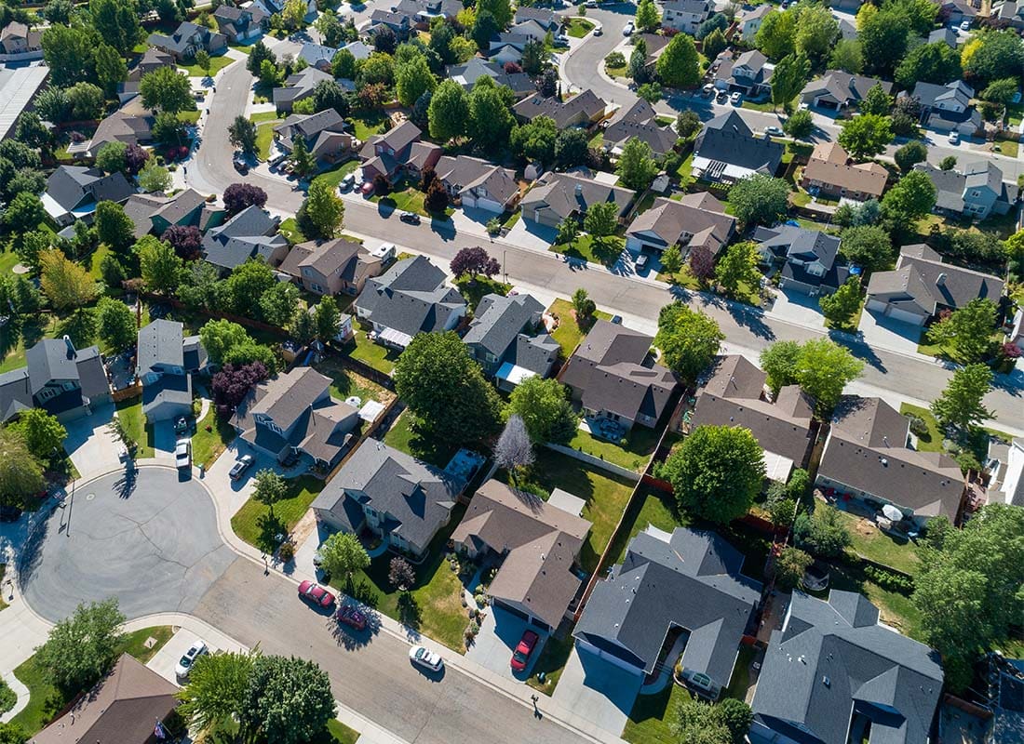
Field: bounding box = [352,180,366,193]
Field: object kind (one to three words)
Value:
vehicle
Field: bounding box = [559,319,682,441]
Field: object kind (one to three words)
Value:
house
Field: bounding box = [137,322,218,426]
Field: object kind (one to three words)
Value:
house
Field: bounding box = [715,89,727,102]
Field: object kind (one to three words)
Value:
vehicle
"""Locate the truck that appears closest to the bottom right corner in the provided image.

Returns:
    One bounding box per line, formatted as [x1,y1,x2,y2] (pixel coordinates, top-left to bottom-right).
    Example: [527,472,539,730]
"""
[508,627,543,676]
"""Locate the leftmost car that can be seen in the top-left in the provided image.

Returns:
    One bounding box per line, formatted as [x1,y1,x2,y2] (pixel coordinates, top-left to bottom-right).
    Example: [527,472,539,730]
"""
[193,89,205,101]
